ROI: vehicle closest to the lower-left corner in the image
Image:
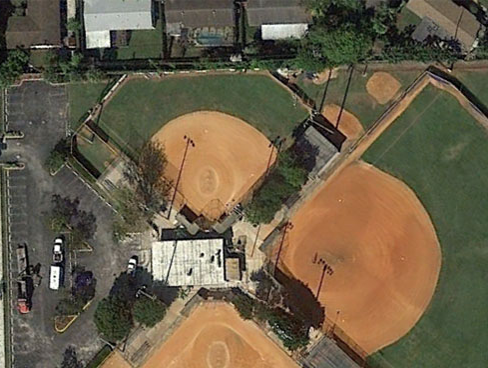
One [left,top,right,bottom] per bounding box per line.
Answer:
[13,277,40,313]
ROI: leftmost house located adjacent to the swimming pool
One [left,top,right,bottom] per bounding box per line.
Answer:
[81,0,156,32]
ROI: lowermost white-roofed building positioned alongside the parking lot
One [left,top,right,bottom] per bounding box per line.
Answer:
[152,238,227,289]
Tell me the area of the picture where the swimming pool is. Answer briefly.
top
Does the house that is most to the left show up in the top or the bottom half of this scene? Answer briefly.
top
